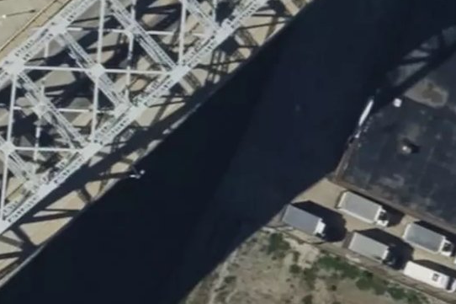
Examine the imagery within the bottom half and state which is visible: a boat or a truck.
truck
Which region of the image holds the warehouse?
right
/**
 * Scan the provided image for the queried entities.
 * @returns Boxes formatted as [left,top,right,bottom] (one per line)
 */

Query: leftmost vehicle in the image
[279,204,330,239]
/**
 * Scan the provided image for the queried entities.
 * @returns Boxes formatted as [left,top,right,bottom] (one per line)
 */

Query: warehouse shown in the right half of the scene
[336,18,456,232]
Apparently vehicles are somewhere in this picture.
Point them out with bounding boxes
[279,204,330,239]
[346,233,398,266]
[336,191,390,228]
[400,261,456,293]
[400,224,454,257]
